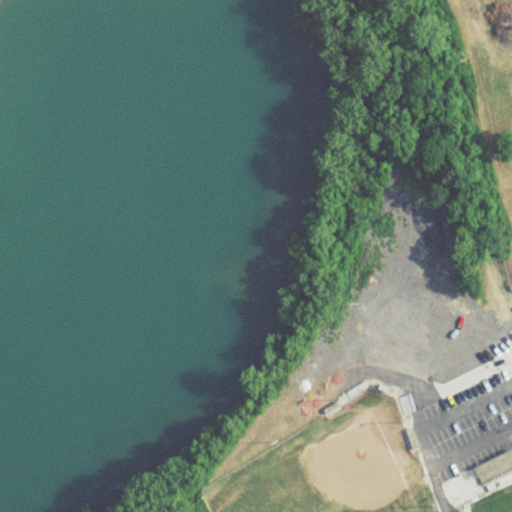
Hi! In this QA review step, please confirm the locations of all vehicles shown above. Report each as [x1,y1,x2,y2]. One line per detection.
[496,375,502,384]
[458,317,464,329]
[494,360,504,366]
[478,352,484,362]
[501,342,508,352]
[484,380,492,392]
[484,350,491,360]
[490,378,498,388]
[442,402,448,412]
[452,464,459,474]
[466,390,474,400]
[480,421,487,431]
[494,346,502,356]
[478,384,486,394]
[460,392,467,402]
[506,338,512,348]
[451,330,460,338]
[472,387,479,396]
[489,404,496,414]
[501,413,508,424]
[455,395,462,404]
[448,396,456,406]
[454,424,461,434]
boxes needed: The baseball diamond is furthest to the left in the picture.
[204,391,437,512]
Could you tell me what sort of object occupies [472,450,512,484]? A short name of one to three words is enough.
building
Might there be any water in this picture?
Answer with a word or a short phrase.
Yes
